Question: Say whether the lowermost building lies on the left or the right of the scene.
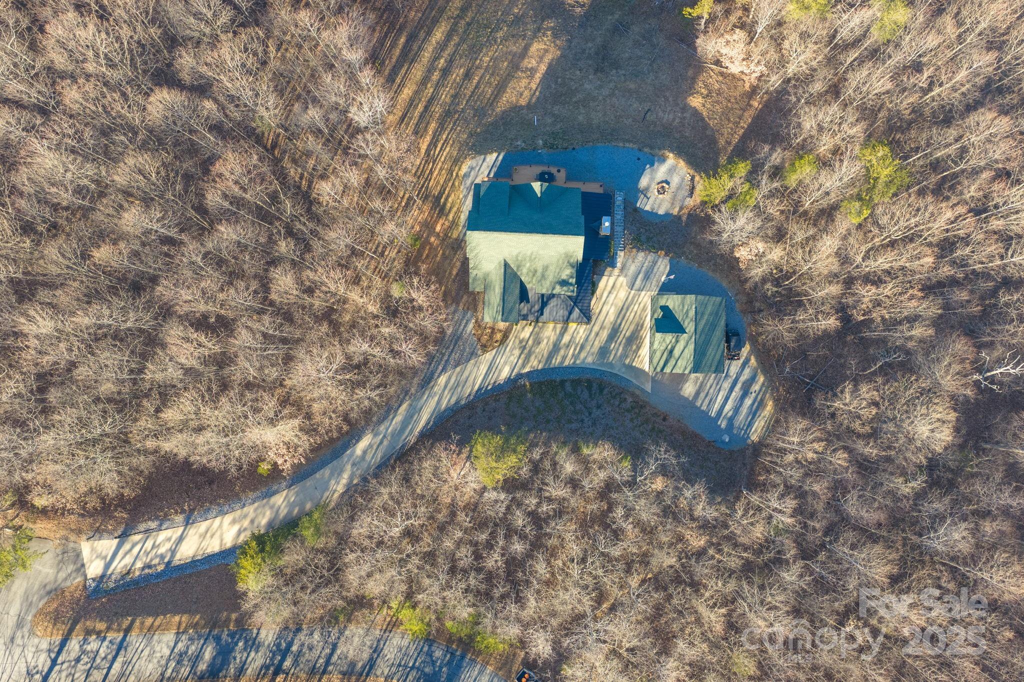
right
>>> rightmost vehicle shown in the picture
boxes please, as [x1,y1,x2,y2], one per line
[727,332,745,361]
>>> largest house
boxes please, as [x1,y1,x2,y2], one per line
[466,182,613,324]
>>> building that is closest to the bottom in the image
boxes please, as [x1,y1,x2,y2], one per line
[648,294,727,374]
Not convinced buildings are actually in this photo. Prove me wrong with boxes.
[466,182,613,324]
[648,294,727,374]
